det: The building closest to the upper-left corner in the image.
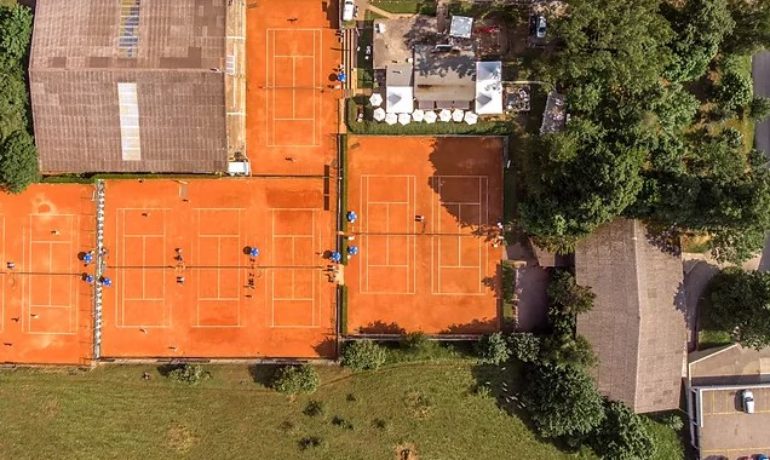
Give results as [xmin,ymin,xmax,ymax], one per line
[29,0,233,176]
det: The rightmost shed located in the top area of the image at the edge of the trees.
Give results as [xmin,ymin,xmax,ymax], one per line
[539,93,567,135]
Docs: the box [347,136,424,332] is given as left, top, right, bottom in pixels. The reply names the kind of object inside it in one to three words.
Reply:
tennis court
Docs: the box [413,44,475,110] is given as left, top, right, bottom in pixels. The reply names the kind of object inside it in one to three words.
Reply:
building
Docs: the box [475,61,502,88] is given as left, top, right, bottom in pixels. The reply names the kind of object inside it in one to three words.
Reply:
tent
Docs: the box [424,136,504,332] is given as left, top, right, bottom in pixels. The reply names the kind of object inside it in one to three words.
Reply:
tennis court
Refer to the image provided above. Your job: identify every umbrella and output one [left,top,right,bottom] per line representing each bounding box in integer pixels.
[374,108,386,121]
[102,277,114,286]
[412,110,423,122]
[440,109,452,123]
[338,72,348,83]
[385,113,397,126]
[349,245,359,255]
[423,110,435,123]
[347,211,358,222]
[452,110,464,121]
[83,253,95,263]
[86,274,97,283]
[399,113,411,125]
[464,112,477,123]
[369,92,381,106]
[331,251,341,262]
[250,247,259,257]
